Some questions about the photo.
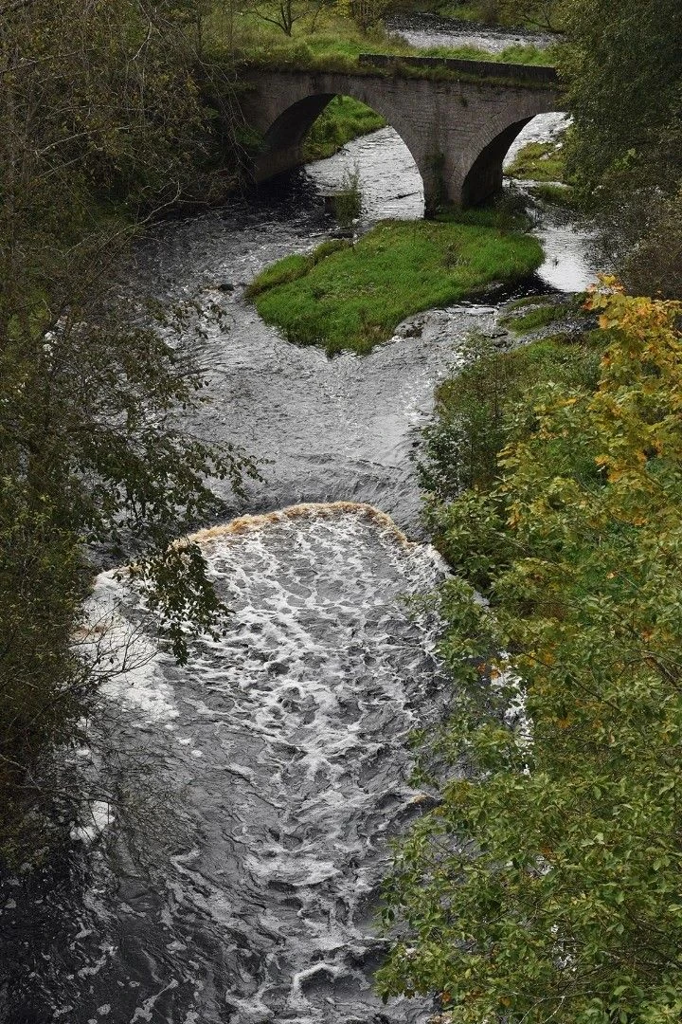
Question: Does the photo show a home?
No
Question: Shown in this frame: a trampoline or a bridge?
bridge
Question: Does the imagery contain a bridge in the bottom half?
No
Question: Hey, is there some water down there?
Yes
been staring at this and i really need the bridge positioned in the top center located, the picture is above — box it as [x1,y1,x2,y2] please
[101,52,681,236]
